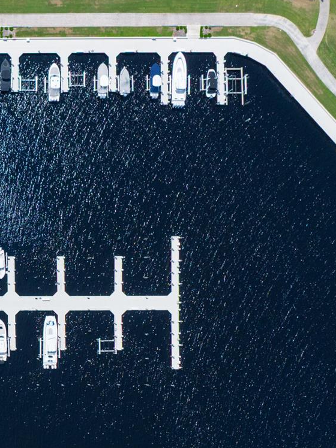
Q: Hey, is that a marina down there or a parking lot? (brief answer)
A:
marina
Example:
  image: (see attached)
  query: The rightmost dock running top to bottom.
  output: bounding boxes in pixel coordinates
[211,54,228,105]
